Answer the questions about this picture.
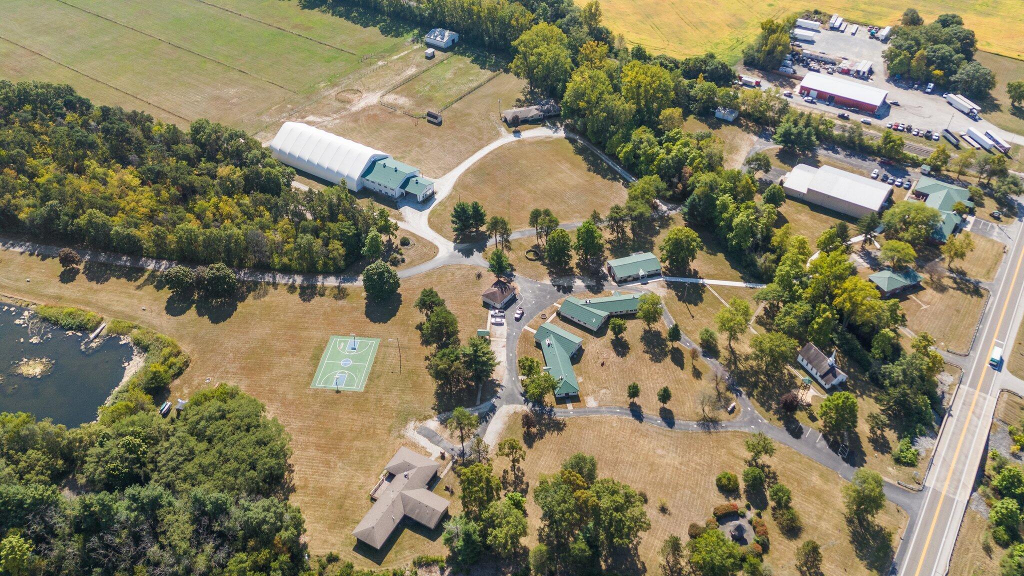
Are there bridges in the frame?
Yes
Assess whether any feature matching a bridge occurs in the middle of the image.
No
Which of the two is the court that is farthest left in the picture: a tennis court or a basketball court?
basketball court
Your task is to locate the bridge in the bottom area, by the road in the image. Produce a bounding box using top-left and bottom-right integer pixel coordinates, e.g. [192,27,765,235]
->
[915,377,1003,520]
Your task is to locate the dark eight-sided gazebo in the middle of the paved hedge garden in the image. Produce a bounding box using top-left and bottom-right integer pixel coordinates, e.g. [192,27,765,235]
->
[730,520,746,539]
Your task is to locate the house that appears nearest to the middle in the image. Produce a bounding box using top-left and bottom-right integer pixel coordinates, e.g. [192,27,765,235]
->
[482,281,516,308]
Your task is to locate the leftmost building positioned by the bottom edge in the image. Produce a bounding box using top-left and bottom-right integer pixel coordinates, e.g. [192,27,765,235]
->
[353,446,450,552]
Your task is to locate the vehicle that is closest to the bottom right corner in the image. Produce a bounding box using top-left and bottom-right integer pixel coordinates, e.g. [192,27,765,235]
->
[988,342,1004,366]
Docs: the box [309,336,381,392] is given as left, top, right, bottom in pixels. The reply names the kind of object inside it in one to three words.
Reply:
basketball court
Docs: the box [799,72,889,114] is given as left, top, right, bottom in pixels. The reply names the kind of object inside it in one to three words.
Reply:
barn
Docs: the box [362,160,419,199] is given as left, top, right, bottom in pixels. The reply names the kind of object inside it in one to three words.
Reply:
building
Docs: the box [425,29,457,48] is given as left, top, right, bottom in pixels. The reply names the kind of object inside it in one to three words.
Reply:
barn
